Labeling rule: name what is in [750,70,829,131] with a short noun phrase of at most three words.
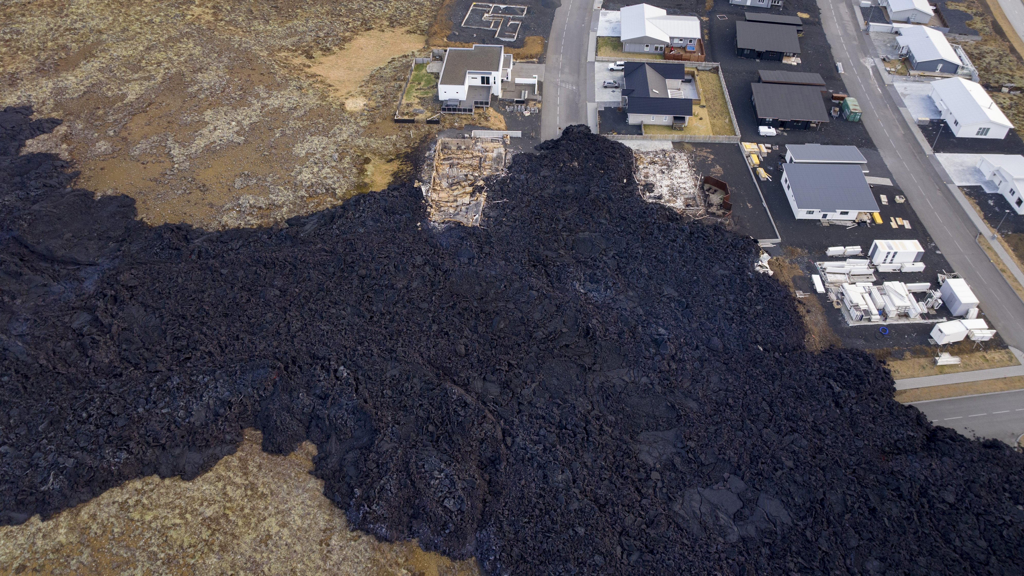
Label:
house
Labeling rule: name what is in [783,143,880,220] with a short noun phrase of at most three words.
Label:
house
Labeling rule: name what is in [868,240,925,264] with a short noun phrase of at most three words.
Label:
building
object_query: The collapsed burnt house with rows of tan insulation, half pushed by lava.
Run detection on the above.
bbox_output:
[427,136,510,228]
